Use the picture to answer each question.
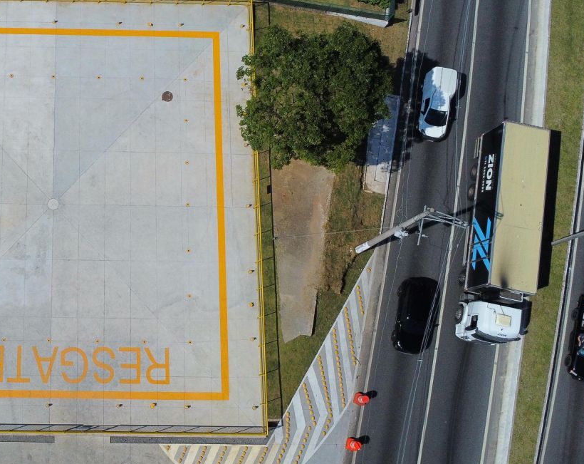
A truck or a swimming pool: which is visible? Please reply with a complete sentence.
There is a truck in the scene.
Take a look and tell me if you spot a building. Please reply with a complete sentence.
No, there isn't any building down there.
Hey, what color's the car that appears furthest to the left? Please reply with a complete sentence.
The color of the car that appears furthest to the left is black.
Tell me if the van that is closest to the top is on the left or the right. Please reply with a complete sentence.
You can find the van that is closest to the top on the right side of the picture.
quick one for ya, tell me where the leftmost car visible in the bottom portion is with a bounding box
[390,275,439,355]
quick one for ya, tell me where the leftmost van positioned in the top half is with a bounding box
[416,62,467,145]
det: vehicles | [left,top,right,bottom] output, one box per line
[452,121,551,353]
[563,289,584,381]
[390,275,439,355]
[416,62,467,145]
